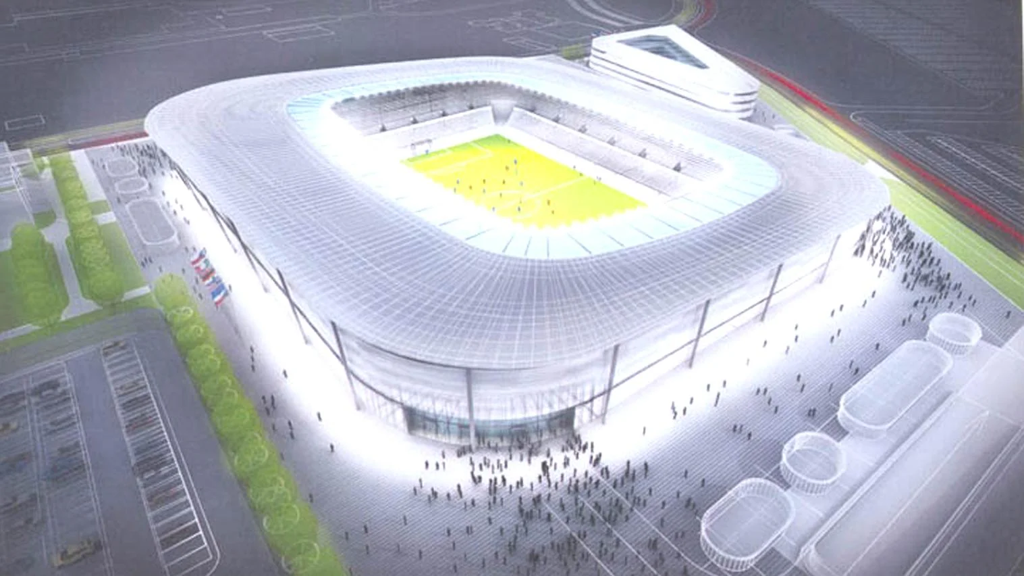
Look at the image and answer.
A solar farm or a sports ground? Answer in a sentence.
What you see here is a sports ground.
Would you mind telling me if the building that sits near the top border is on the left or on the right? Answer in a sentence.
The building that sits near the top border appears in the right half of the scene.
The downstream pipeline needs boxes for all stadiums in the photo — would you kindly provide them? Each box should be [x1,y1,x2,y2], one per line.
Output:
[155,57,891,450]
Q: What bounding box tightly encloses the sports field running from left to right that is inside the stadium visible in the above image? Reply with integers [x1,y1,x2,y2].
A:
[382,135,655,228]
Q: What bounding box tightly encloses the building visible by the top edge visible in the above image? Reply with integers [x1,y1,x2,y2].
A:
[577,26,769,118]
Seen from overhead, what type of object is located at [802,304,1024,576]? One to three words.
building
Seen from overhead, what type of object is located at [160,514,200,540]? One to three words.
car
